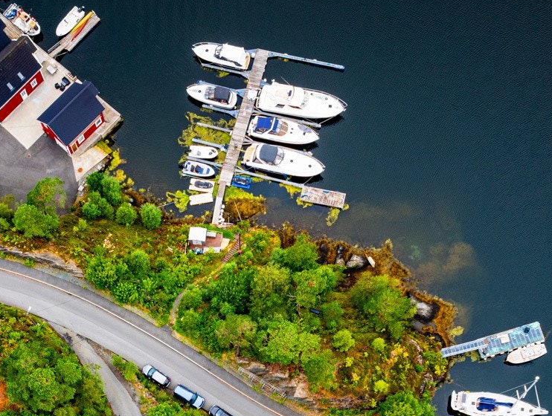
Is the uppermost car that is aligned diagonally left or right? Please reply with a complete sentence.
You can find the uppermost car that is aligned diagonally on the left side of the picture.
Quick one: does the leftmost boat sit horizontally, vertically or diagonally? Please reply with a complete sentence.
In this picture, the leftmost boat lies diagonally.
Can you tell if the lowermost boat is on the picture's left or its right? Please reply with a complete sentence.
The lowermost boat sits on the right side.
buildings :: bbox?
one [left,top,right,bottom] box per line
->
[188,227,230,253]
[37,81,105,151]
[0,36,44,119]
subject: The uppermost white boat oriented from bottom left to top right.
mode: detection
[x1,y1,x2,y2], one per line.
[56,1,86,37]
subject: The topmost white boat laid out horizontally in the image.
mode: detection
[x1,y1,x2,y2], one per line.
[192,40,252,71]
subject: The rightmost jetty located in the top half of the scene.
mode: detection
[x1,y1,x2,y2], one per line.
[186,48,342,224]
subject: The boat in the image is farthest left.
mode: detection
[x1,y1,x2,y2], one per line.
[5,3,35,36]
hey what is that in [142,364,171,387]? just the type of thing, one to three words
car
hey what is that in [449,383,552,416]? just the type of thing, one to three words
boat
